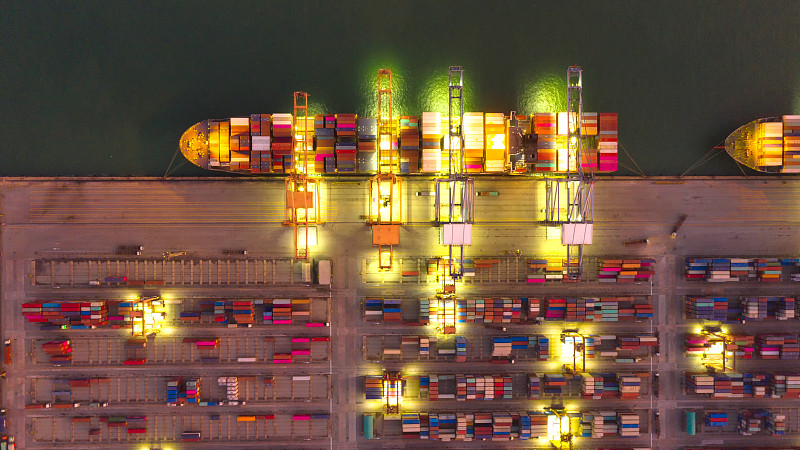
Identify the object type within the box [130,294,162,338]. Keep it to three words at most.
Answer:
container crane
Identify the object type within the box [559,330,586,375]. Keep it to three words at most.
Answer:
container crane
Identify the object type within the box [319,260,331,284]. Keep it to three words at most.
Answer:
shed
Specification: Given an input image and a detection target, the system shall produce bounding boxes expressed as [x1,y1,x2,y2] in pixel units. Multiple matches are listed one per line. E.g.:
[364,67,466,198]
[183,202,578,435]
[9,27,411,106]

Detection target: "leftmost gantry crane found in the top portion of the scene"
[282,91,327,257]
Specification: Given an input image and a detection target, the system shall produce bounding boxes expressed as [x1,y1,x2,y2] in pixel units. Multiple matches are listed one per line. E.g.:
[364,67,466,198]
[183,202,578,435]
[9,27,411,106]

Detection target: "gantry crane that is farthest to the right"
[702,328,738,373]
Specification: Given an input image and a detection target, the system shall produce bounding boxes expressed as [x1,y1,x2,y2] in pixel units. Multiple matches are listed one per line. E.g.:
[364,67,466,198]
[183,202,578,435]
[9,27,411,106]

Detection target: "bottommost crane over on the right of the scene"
[547,406,573,450]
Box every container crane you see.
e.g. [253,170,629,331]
[367,68,405,268]
[438,253,457,296]
[559,330,586,375]
[438,294,457,338]
[383,370,402,419]
[539,66,598,279]
[702,328,738,373]
[282,91,327,257]
[430,66,473,279]
[547,406,573,450]
[130,294,162,338]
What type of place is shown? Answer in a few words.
port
